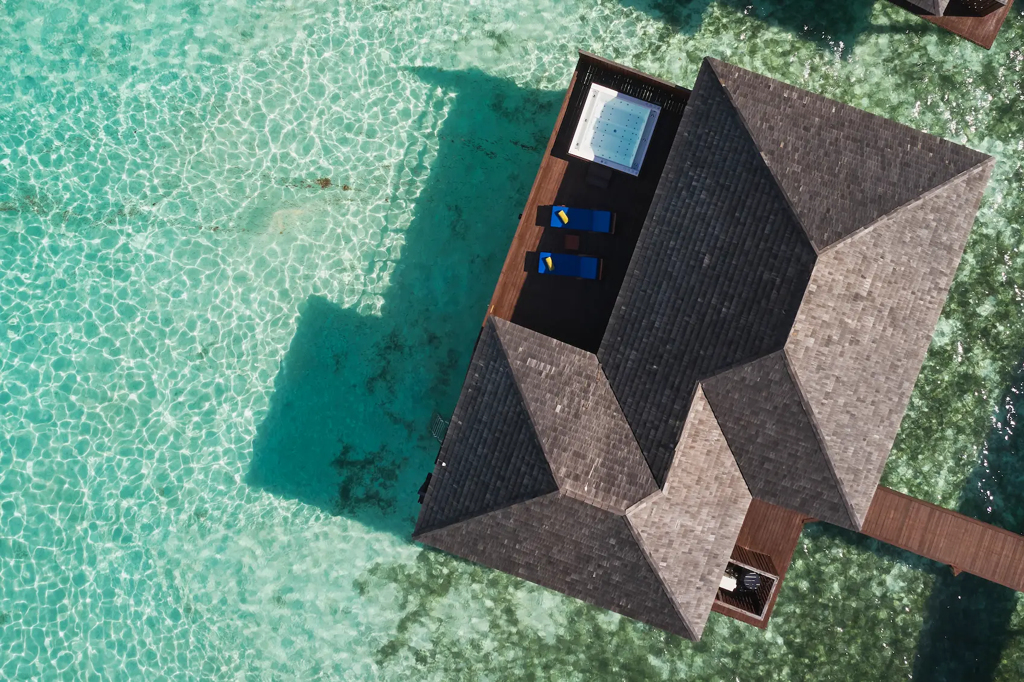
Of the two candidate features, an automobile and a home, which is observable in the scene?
home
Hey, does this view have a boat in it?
No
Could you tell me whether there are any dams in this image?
No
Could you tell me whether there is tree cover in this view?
No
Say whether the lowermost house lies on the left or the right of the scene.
right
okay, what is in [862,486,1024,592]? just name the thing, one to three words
pier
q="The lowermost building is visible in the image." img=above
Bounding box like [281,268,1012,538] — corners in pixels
[410,54,996,644]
